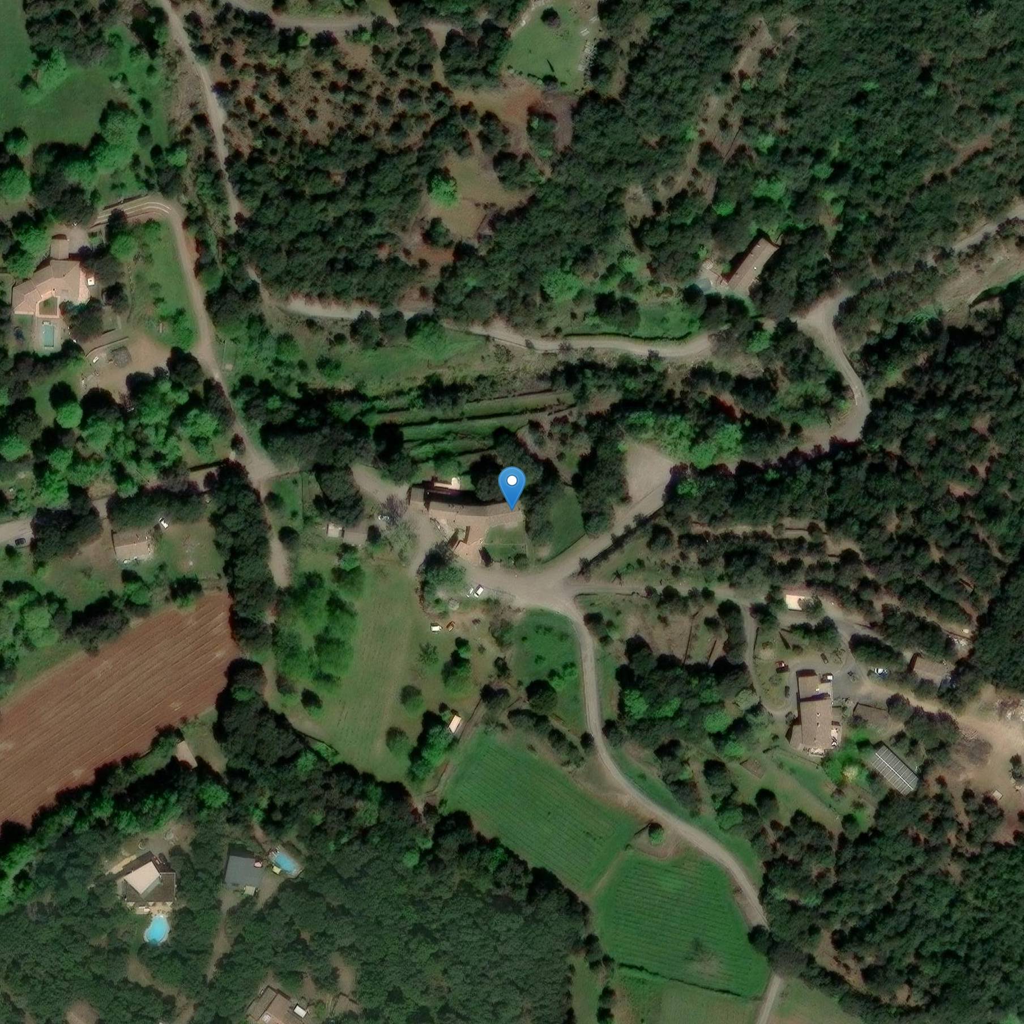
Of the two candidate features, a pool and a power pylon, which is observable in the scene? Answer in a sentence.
This aerial view contains a pool.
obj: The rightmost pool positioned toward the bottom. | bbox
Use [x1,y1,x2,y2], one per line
[272,850,299,875]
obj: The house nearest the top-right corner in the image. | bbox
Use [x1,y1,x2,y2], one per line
[728,236,779,294]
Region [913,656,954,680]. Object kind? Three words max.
barn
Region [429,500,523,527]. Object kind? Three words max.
house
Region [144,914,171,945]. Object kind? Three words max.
swimming pool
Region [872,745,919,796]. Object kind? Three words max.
building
